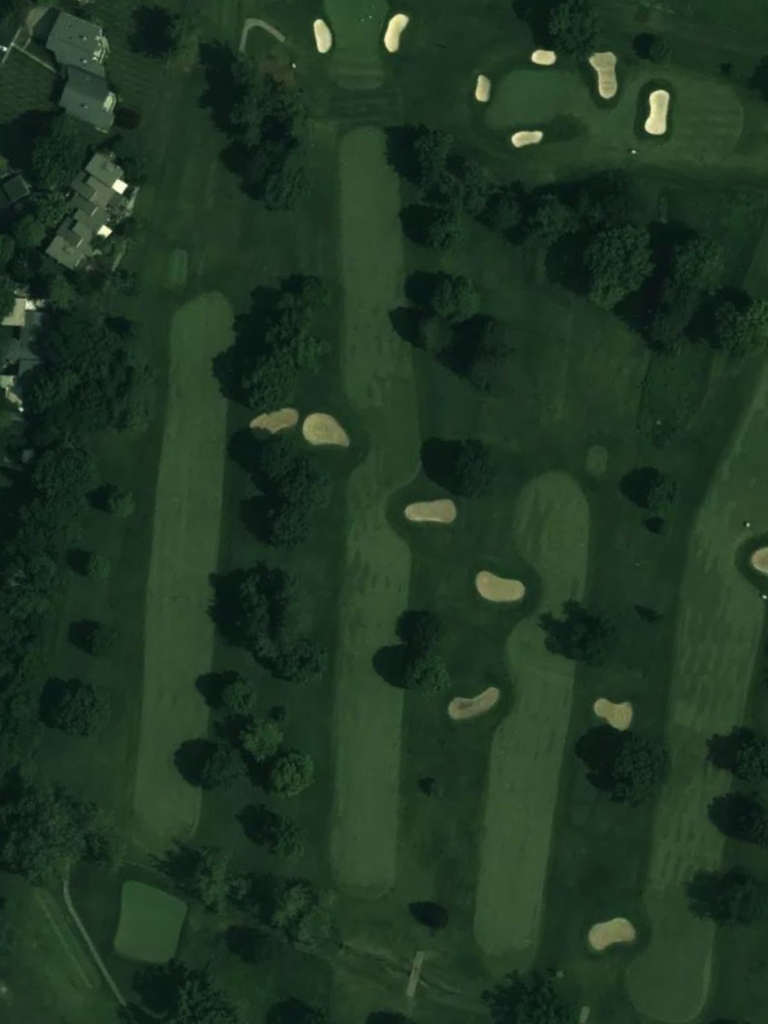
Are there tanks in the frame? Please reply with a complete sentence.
No, there's no tank here.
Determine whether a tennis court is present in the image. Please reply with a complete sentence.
No, there isn't any tennis court down there.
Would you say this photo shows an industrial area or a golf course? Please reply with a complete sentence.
It's a golf course.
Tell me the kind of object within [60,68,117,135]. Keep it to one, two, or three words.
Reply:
house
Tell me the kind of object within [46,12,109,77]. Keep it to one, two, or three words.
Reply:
house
